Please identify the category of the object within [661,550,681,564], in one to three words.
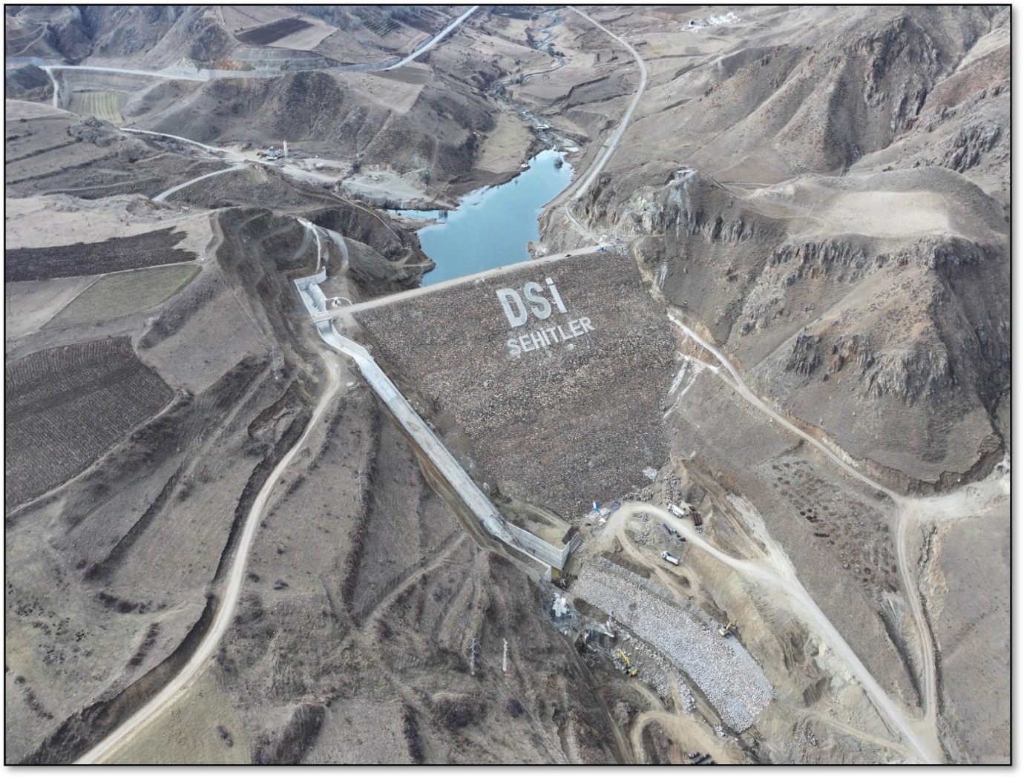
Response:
vehicle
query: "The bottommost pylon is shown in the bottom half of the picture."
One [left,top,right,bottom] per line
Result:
[464,634,479,674]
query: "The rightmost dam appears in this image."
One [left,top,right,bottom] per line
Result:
[328,242,679,529]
